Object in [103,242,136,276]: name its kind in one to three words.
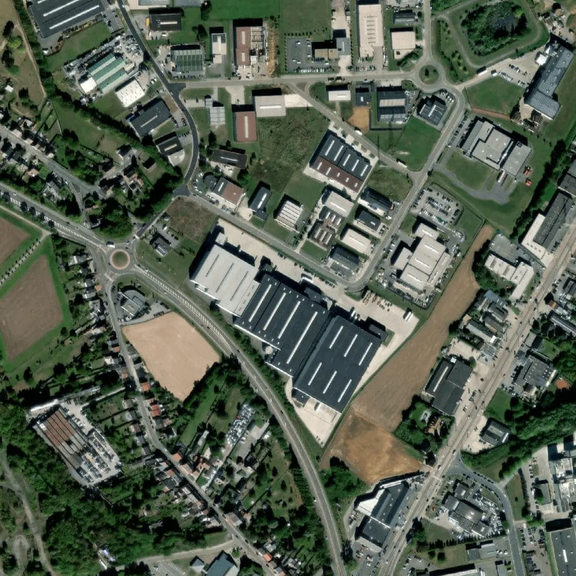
roundabout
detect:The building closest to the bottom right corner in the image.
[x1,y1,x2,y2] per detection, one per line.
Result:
[548,528,576,576]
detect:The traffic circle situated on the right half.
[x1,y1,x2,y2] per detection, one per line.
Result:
[412,58,446,91]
